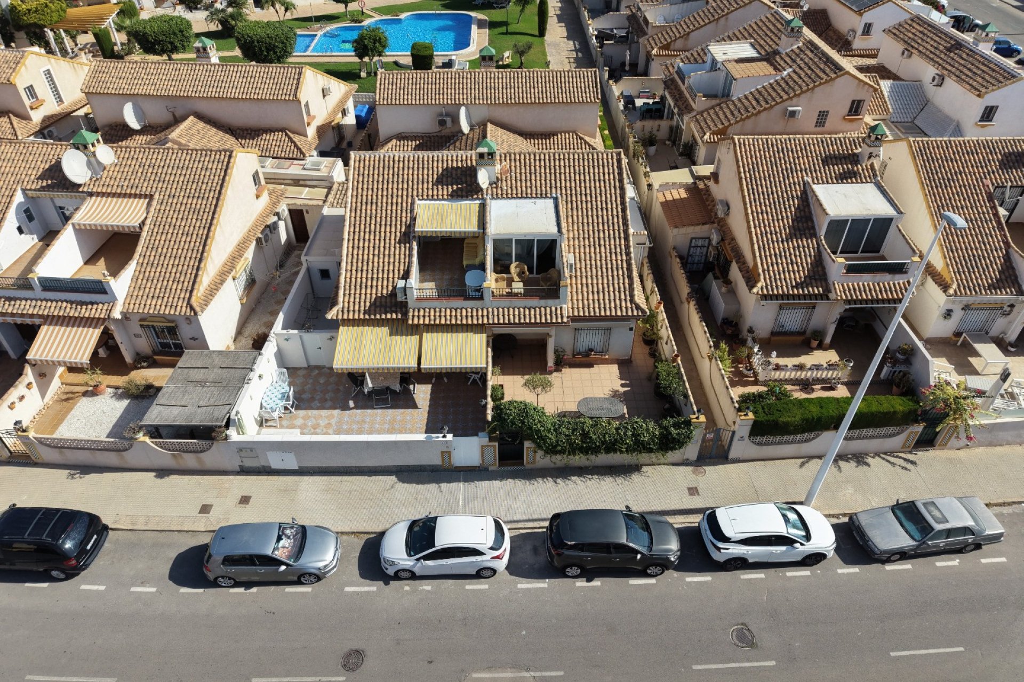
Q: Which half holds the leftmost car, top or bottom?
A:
bottom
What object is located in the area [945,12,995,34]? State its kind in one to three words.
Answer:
car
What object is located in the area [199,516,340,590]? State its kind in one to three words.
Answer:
car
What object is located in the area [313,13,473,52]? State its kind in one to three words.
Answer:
swimming pool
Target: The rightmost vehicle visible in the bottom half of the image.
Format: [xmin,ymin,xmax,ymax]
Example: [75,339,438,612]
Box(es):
[843,495,1004,565]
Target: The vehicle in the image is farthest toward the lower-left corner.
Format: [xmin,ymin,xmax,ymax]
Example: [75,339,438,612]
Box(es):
[0,507,102,583]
